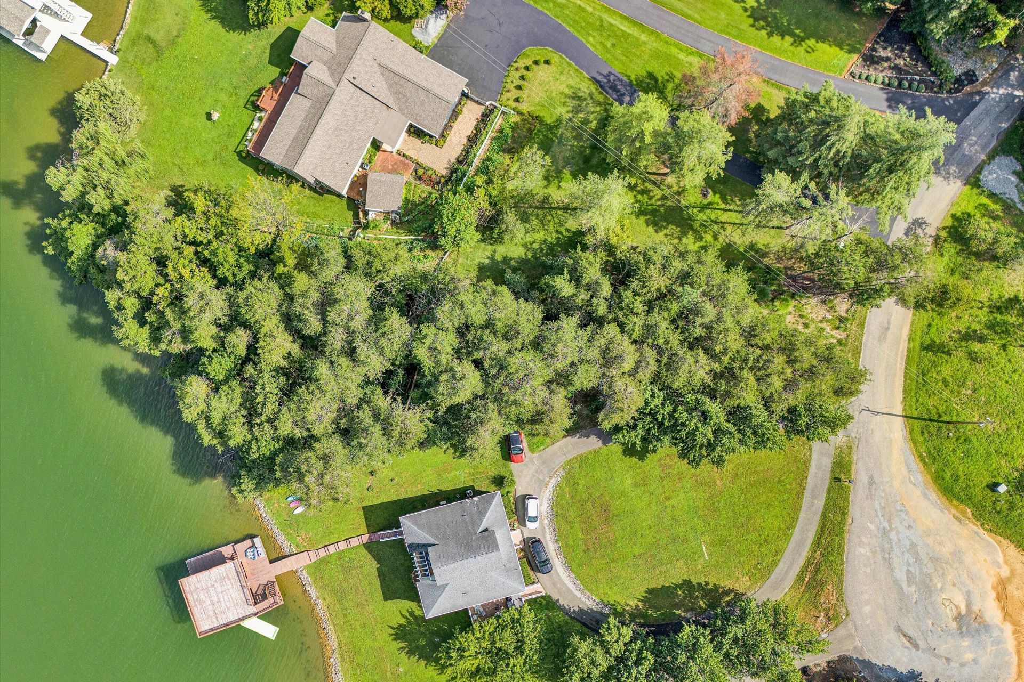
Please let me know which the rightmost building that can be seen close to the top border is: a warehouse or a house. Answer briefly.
house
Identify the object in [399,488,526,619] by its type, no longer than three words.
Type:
house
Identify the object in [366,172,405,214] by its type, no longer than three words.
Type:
shed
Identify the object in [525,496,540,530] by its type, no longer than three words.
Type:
car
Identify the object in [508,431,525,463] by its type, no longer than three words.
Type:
car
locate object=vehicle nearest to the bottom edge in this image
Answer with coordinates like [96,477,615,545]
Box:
[529,539,551,575]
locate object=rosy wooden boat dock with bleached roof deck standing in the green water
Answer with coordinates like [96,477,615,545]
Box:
[176,534,285,640]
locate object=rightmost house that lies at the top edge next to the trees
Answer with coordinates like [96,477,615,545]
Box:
[259,11,468,196]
